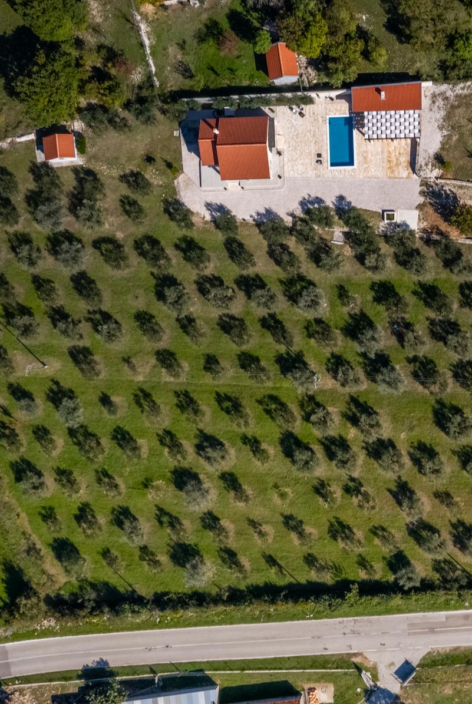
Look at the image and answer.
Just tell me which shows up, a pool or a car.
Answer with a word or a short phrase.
pool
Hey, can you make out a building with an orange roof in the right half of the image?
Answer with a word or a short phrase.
Yes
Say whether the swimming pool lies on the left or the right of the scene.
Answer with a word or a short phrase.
right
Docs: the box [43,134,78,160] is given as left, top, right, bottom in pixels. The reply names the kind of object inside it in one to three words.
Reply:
shed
